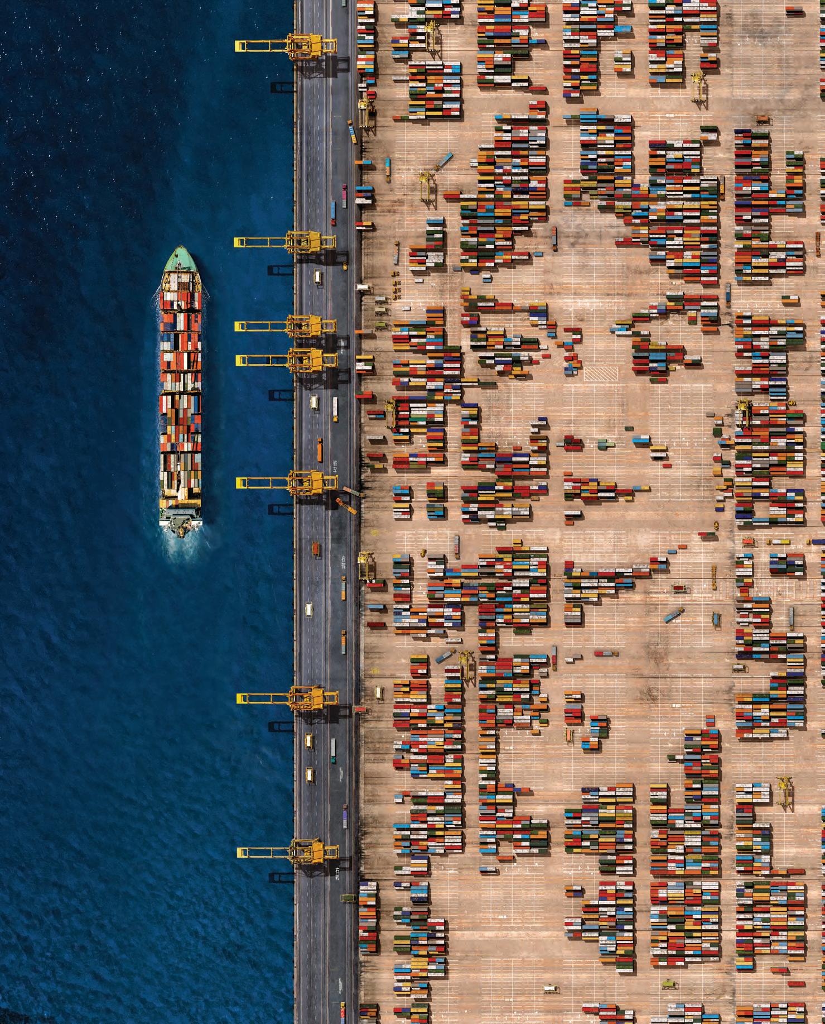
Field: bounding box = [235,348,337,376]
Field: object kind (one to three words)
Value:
container crane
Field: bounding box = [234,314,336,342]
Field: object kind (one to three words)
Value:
container crane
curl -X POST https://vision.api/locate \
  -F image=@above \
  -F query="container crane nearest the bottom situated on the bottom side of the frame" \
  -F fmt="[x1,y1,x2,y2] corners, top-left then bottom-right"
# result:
[236,837,338,865]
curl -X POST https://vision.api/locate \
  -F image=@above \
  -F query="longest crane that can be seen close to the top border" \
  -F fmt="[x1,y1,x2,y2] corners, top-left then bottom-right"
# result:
[234,34,337,63]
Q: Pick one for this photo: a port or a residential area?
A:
port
